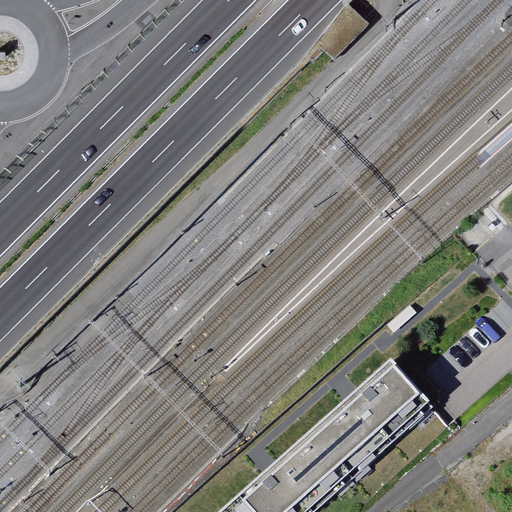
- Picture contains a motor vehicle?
Yes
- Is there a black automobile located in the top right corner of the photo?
No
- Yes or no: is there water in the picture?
No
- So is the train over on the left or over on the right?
right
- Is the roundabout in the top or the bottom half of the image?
top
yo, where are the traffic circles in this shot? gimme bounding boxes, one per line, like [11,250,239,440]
[0,0,72,126]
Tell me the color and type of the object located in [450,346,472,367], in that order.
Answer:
black car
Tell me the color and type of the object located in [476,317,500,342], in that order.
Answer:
blue vehicle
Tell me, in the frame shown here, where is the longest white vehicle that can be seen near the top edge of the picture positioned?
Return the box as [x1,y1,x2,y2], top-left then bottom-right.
[289,16,310,37]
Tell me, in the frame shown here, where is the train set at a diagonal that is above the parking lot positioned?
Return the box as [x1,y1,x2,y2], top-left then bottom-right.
[478,123,512,163]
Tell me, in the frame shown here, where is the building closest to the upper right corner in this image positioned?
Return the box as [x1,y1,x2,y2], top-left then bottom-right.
[318,4,368,59]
